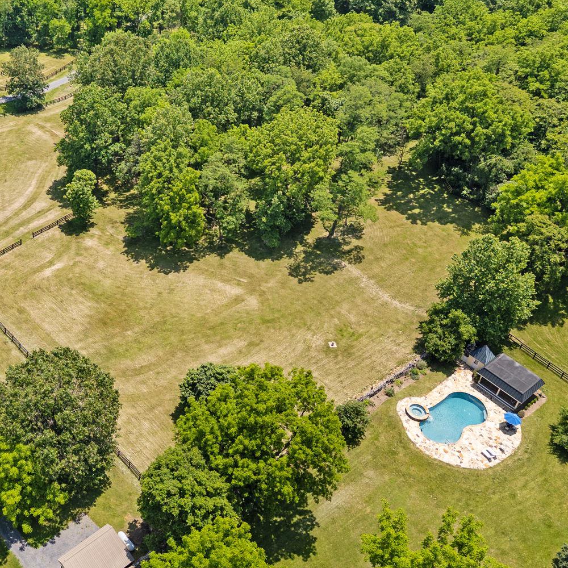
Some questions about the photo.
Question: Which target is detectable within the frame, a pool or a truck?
pool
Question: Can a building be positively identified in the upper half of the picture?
No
